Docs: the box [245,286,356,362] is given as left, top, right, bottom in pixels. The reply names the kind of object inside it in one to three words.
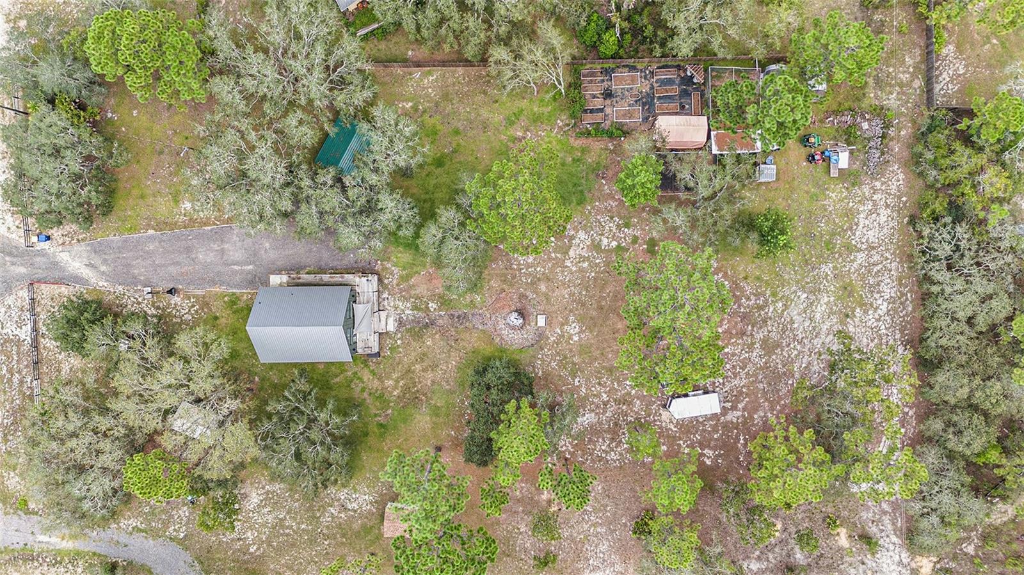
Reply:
house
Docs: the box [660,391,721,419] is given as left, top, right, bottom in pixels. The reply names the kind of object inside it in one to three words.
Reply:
trailer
